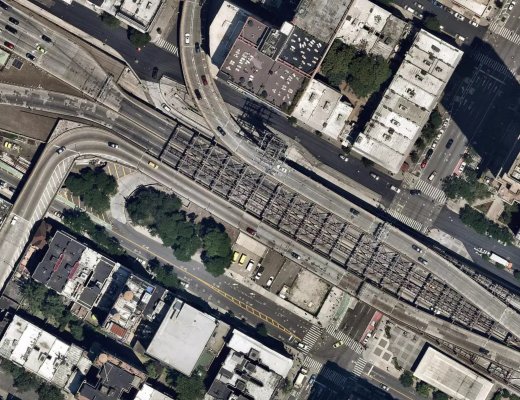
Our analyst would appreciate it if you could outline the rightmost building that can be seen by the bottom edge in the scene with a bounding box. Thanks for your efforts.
[412,346,495,400]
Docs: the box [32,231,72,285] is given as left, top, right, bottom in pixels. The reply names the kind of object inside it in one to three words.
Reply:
building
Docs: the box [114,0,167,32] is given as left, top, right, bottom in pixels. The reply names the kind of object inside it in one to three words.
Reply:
building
